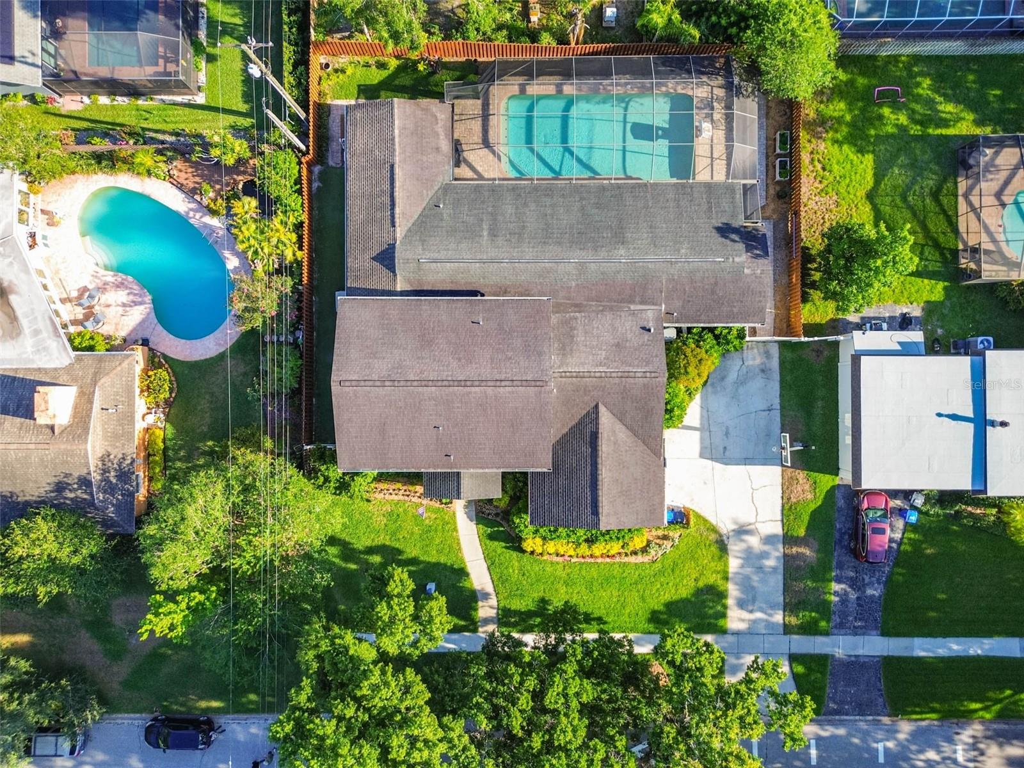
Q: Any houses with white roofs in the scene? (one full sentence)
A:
Yes, a house with a white roof can be made out from above.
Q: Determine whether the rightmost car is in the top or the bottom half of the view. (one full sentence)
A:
It is in the bottom half that the rightmost car appears.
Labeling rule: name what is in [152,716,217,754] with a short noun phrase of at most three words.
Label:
car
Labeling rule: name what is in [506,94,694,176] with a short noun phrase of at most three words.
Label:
swimming pool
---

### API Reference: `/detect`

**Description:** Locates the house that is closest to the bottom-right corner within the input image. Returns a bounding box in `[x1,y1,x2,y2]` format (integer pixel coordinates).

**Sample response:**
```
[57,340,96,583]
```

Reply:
[838,331,1024,496]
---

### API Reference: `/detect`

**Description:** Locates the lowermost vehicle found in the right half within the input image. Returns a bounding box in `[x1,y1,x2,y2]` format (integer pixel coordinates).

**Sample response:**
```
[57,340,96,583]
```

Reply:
[857,491,898,564]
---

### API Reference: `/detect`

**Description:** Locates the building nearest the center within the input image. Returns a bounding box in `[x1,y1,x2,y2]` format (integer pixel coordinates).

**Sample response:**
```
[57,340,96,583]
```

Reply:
[331,97,774,530]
